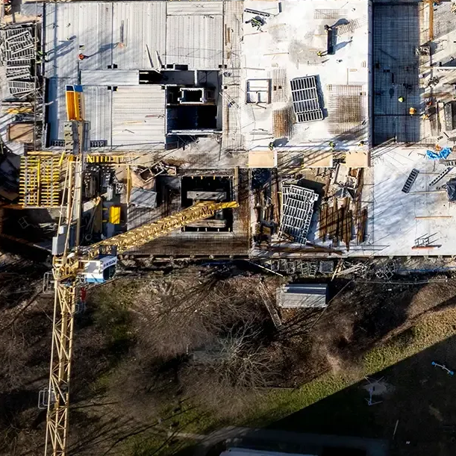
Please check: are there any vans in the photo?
No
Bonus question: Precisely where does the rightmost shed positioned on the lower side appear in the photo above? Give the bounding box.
[276,280,331,308]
